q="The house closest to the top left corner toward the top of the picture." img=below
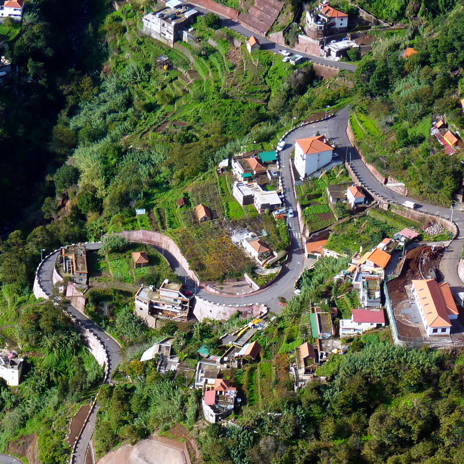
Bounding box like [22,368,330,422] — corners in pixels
[0,0,26,24]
